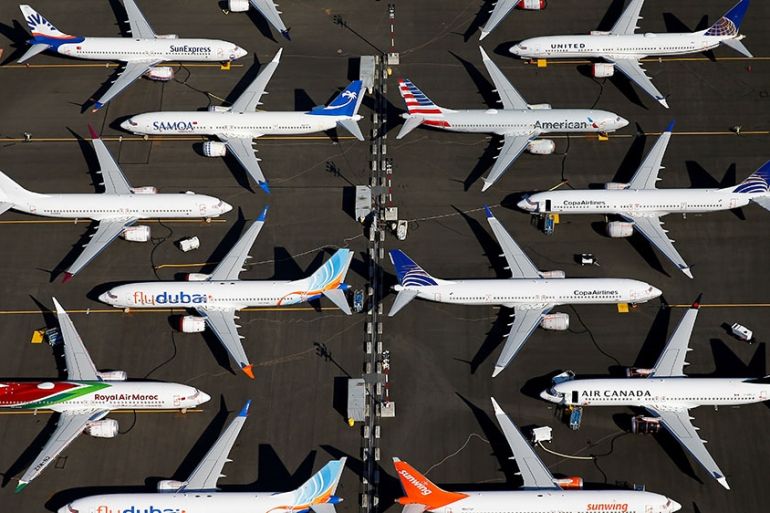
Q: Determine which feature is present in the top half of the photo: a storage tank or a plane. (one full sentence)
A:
Visible in the top half of the photo is a plane.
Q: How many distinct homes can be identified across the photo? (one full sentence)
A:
The picture shows no homes.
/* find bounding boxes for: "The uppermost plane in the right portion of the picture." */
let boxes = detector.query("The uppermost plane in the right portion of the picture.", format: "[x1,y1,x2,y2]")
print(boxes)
[479,0,547,39]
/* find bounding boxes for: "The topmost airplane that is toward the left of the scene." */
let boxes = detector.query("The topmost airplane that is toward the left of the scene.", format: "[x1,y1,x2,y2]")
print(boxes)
[227,0,291,40]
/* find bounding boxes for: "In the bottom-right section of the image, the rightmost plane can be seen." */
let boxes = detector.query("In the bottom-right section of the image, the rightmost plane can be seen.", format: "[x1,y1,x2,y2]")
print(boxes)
[540,296,770,487]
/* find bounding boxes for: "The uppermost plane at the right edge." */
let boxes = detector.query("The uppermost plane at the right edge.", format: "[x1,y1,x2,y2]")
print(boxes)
[509,0,751,108]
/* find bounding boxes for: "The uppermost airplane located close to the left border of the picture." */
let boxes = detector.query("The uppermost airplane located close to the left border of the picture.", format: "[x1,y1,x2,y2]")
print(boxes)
[19,0,245,111]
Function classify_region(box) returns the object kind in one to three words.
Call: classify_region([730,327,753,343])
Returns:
vehicle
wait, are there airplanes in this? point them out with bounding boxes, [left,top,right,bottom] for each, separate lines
[393,398,682,513]
[227,0,291,40]
[0,126,232,281]
[517,123,770,278]
[120,51,366,193]
[389,206,663,378]
[398,49,629,190]
[99,207,355,378]
[509,0,751,108]
[0,301,210,491]
[540,296,770,487]
[479,0,547,39]
[19,0,245,111]
[59,400,347,513]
